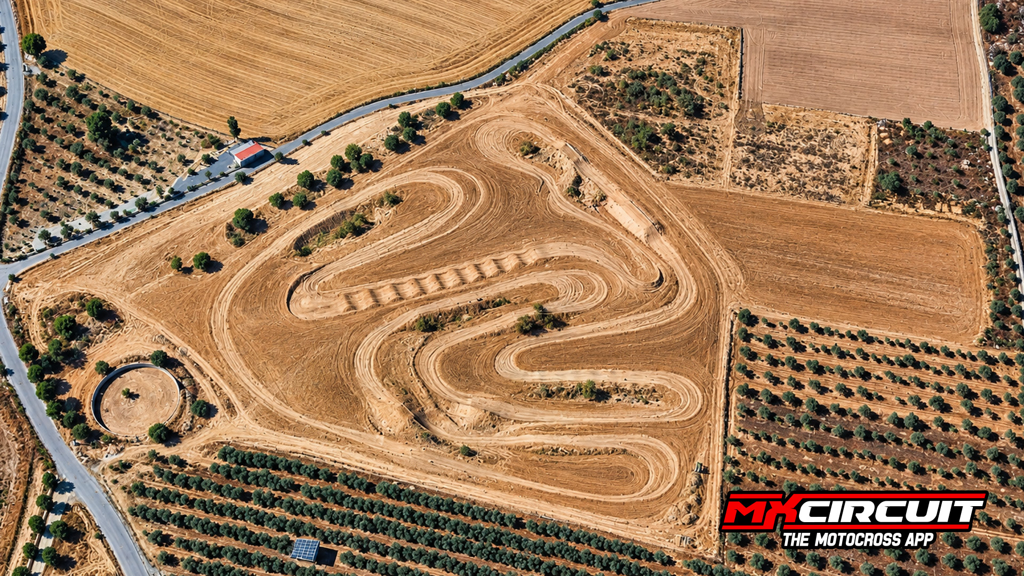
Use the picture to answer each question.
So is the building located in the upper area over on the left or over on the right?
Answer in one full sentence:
The building located in the upper area appears in the left half of the scene.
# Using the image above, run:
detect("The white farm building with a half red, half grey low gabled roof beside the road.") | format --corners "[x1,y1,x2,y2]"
[230,138,266,168]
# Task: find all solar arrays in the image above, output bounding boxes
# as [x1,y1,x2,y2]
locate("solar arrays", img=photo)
[292,538,319,564]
